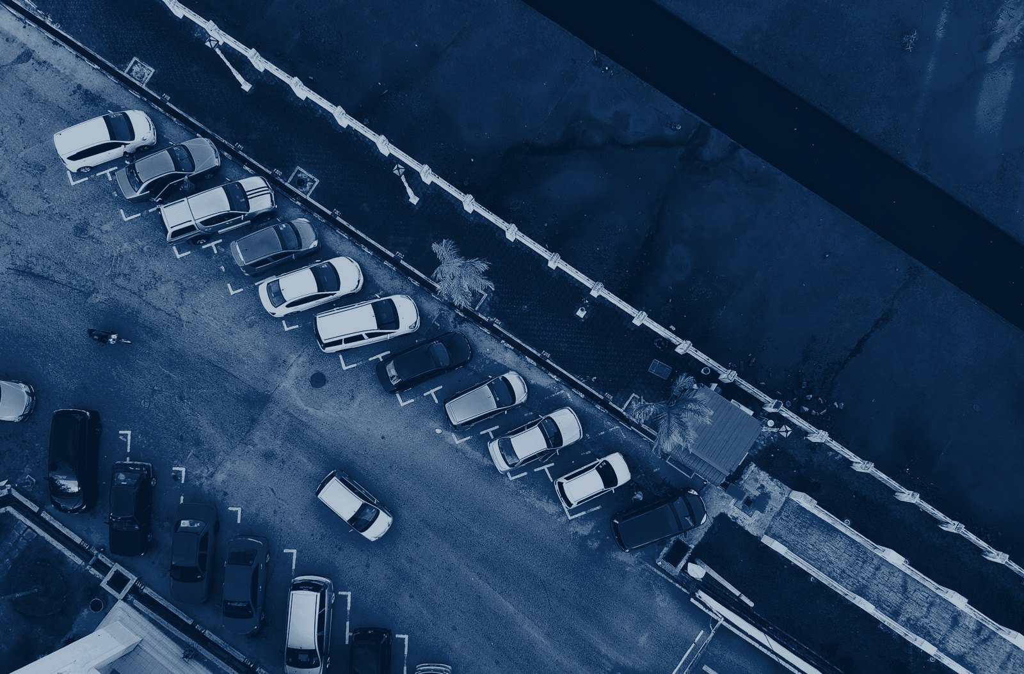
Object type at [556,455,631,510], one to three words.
car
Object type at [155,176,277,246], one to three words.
truck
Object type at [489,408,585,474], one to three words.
car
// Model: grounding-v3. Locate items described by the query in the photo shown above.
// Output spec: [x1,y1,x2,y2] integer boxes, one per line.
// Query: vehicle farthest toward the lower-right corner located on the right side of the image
[610,490,708,554]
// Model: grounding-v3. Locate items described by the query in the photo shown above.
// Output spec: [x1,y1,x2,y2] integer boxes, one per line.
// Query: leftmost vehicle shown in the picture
[0,380,38,421]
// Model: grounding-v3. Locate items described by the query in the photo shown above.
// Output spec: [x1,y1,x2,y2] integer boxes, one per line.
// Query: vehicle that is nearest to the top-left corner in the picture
[50,111,159,177]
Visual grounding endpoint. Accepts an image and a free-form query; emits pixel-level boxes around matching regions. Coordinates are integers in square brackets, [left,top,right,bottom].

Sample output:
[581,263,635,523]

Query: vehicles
[155,176,277,246]
[489,408,585,474]
[115,139,222,203]
[0,380,38,421]
[79,327,133,346]
[43,412,106,513]
[319,470,392,538]
[214,536,271,633]
[445,373,529,432]
[377,334,473,393]
[101,464,158,554]
[348,627,393,674]
[258,260,365,321]
[610,490,708,554]
[162,504,220,603]
[313,295,421,356]
[50,111,159,177]
[230,218,320,277]
[281,576,335,674]
[556,455,631,510]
